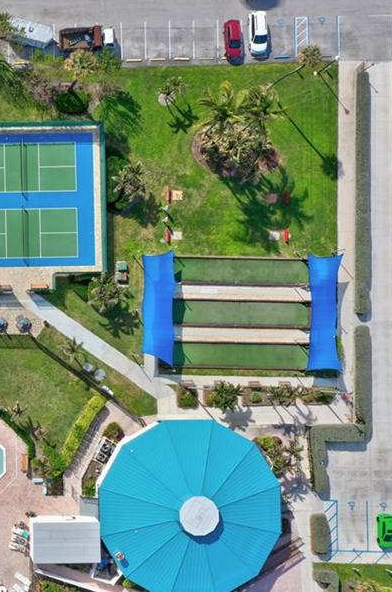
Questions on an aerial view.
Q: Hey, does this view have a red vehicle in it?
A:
Yes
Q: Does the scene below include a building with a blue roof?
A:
Yes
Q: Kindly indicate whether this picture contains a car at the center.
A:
No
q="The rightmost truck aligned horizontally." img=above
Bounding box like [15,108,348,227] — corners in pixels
[53,26,118,52]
